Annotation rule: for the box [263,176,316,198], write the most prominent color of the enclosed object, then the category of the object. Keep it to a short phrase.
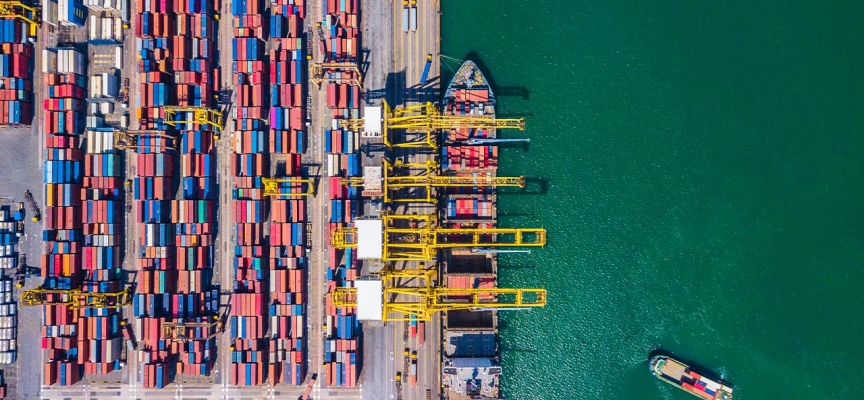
yellow crane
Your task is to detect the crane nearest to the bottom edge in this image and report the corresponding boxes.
[163,317,231,343]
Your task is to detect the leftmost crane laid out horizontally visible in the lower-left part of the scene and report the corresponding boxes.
[22,283,84,309]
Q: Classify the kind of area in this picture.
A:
port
